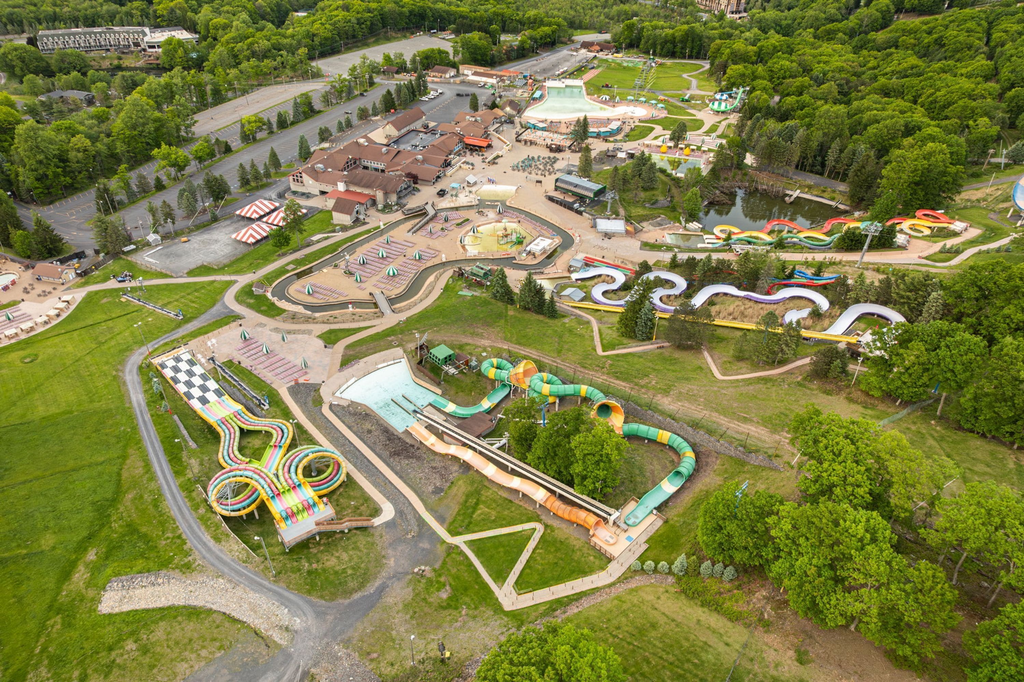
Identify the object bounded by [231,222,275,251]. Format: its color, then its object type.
white tent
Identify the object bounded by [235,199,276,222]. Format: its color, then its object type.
white tent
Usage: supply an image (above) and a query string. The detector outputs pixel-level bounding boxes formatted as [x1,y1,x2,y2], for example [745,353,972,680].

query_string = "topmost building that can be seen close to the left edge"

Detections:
[36,17,199,51]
